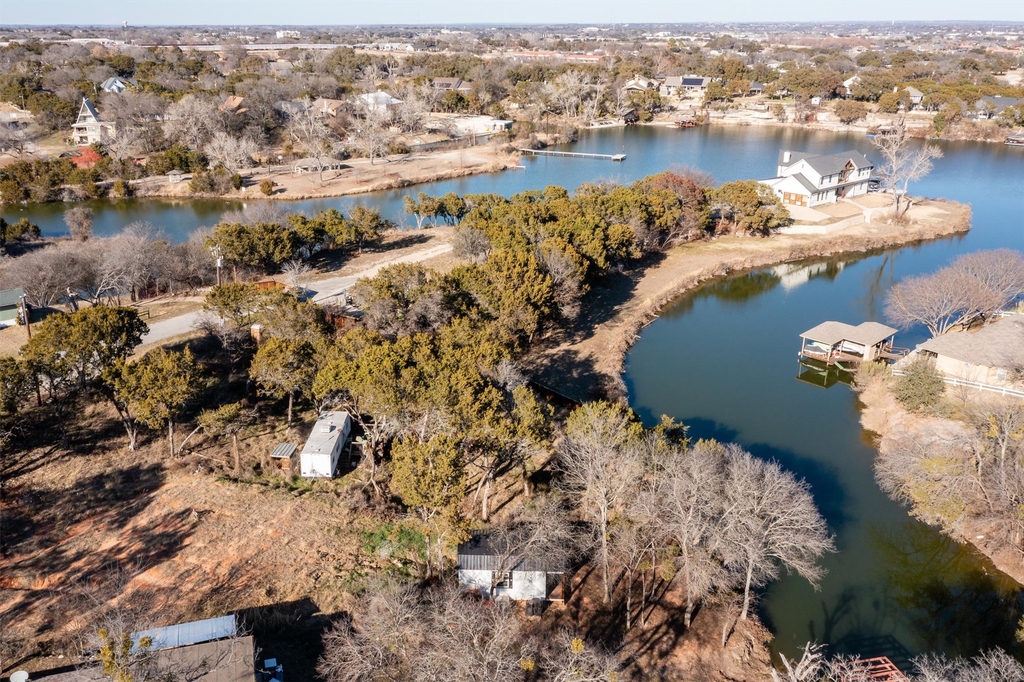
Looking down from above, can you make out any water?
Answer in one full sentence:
Yes, the picture does contain water.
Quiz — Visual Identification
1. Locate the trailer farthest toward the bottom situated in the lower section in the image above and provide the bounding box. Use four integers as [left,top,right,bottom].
[301,411,351,488]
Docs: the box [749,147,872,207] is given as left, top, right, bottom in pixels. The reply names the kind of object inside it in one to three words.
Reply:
house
